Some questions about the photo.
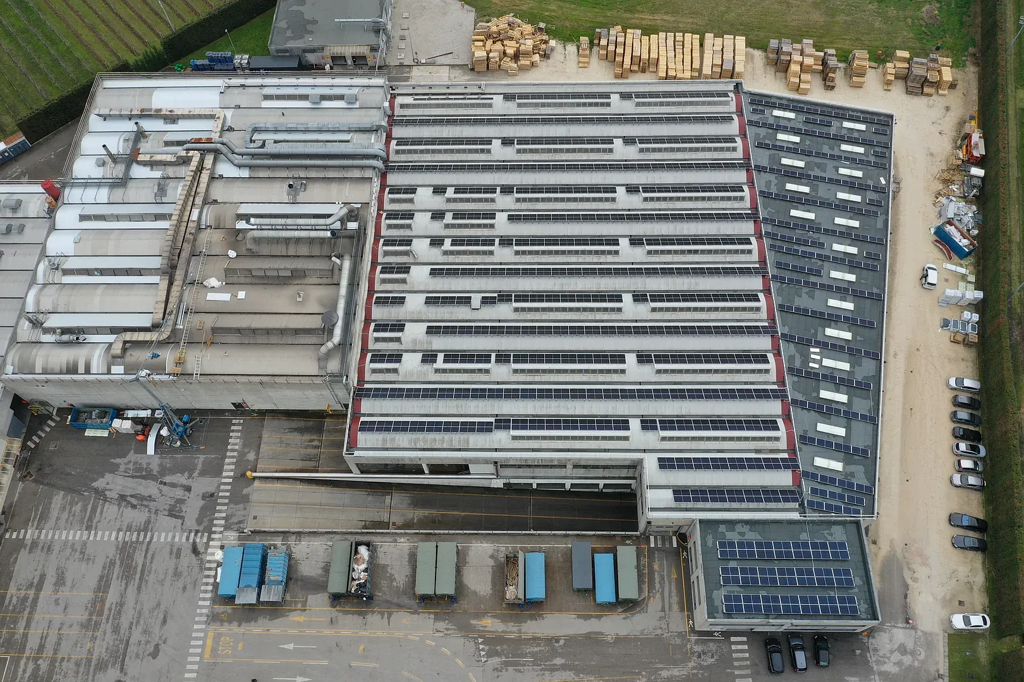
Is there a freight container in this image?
Yes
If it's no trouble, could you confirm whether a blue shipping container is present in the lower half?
Yes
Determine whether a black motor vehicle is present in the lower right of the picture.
Yes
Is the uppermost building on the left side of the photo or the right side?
left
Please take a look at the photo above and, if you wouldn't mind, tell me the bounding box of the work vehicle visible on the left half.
[132,421,149,444]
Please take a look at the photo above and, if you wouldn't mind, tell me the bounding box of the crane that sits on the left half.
[121,264,200,446]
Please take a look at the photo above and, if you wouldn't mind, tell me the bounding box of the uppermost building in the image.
[268,0,392,61]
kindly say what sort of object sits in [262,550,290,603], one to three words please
shipping container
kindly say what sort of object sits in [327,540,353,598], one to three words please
shipping container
